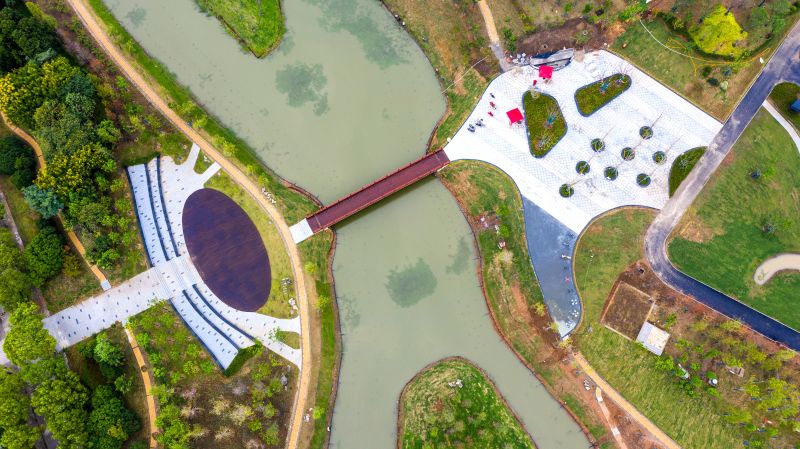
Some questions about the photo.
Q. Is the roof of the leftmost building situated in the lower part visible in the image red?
No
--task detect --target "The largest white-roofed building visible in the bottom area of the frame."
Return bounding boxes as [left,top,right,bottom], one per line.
[638,324,670,355]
